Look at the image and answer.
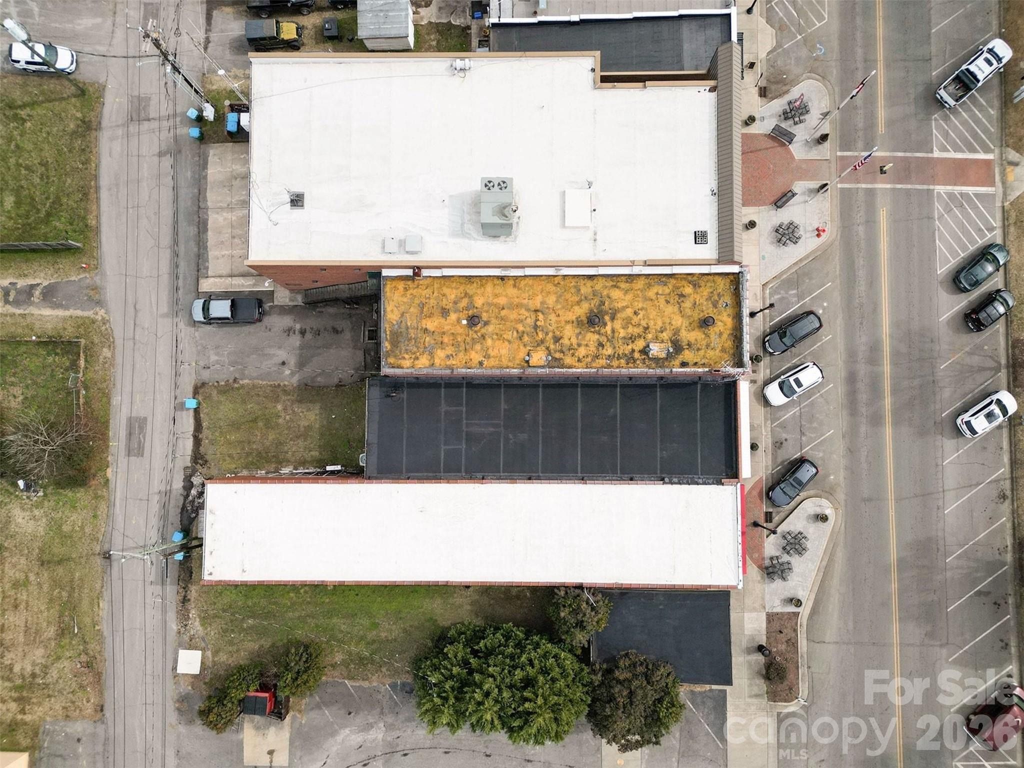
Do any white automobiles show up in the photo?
Yes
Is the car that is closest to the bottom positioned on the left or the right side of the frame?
right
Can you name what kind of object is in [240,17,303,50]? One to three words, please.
car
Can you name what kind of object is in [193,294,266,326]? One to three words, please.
truck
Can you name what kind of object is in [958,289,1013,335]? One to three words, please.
car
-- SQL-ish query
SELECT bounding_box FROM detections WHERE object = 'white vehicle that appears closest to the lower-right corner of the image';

[950,390,1015,439]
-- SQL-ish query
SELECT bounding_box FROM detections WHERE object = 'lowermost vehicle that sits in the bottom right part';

[970,683,1024,749]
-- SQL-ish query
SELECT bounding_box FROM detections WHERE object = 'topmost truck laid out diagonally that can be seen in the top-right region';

[934,43,1008,108]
